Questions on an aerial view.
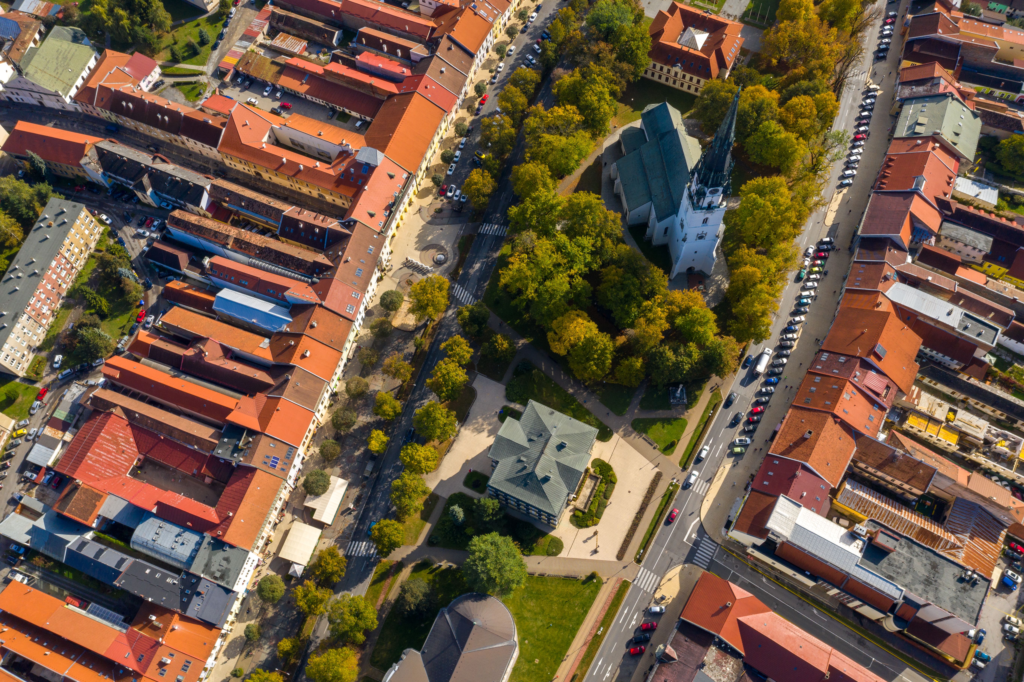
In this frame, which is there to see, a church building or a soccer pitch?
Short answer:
church building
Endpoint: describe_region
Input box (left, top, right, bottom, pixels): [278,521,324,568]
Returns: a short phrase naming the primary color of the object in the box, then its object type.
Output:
white tent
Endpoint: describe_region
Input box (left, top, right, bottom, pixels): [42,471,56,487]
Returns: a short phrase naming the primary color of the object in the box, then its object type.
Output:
blue car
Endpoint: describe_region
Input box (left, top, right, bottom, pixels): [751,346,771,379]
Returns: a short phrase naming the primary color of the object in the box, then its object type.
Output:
white vehicle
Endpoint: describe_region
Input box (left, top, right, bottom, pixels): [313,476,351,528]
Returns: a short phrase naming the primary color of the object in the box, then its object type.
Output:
white tent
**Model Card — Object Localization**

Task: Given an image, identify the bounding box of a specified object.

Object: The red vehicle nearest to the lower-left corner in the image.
[65,594,87,610]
